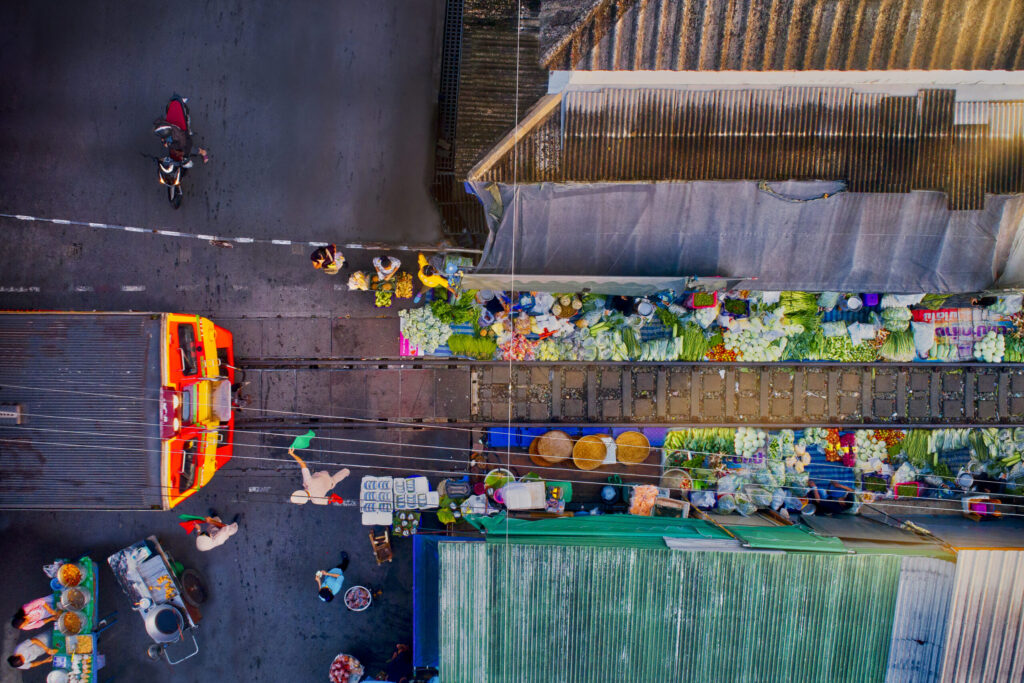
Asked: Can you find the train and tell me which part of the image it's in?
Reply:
left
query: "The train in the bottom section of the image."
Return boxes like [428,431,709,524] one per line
[0,310,251,512]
